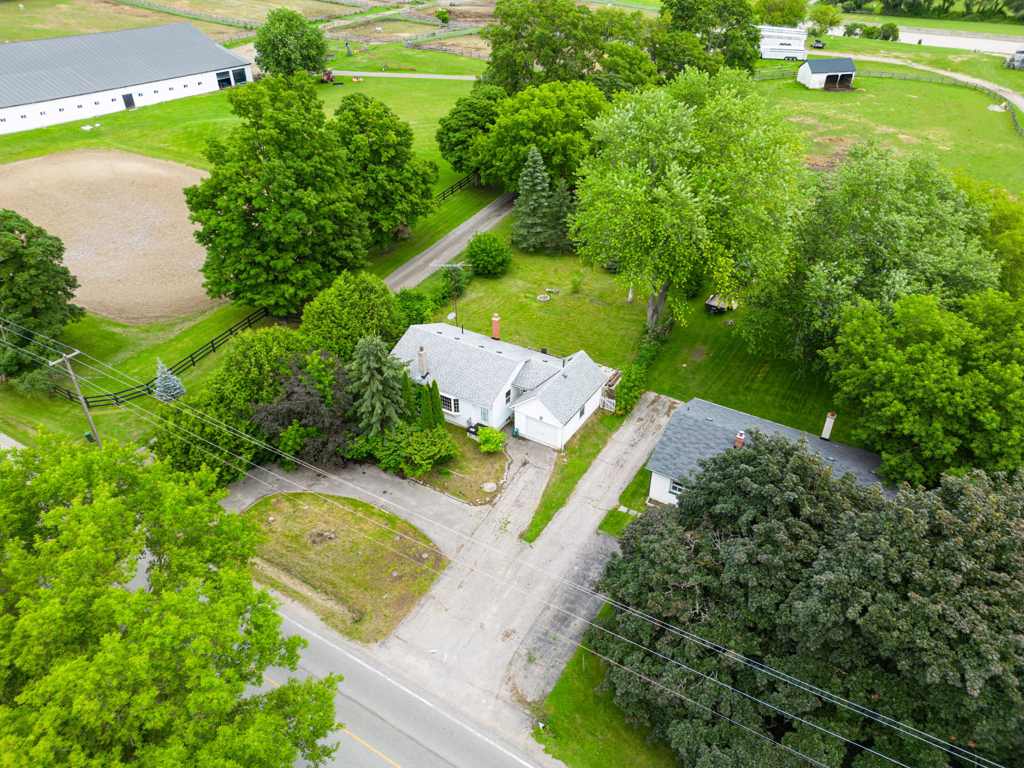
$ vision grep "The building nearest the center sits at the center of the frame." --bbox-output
[381,308,609,454]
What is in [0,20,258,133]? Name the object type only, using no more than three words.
barn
